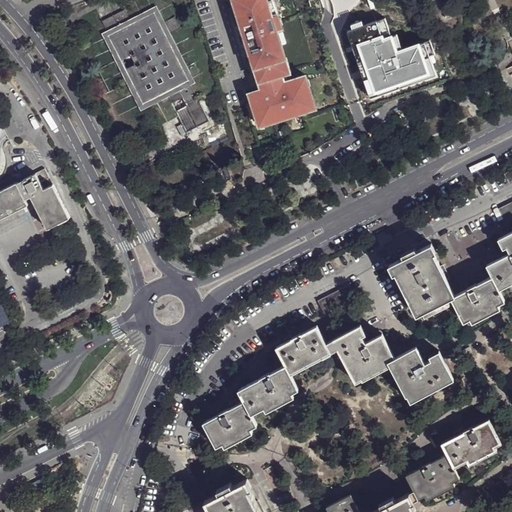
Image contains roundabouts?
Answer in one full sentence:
Yes, I can see a roundabout in this picture.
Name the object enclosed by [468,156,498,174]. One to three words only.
vehicle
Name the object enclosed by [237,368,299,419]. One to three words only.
building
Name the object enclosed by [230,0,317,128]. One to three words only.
house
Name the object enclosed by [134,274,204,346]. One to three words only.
roundabout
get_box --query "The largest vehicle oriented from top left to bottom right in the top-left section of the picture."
[43,110,60,132]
